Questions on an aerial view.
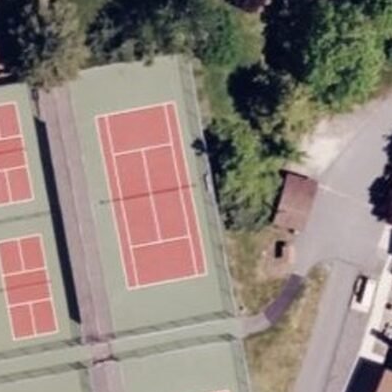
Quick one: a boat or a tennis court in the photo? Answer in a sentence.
Visible in the photo is a tennis court.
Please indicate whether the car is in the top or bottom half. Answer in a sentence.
The bottom half of the photo is where the car is.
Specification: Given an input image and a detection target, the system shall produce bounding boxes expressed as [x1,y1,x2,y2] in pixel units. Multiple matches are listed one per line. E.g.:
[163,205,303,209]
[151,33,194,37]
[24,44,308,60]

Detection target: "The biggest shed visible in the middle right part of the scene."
[274,174,318,228]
